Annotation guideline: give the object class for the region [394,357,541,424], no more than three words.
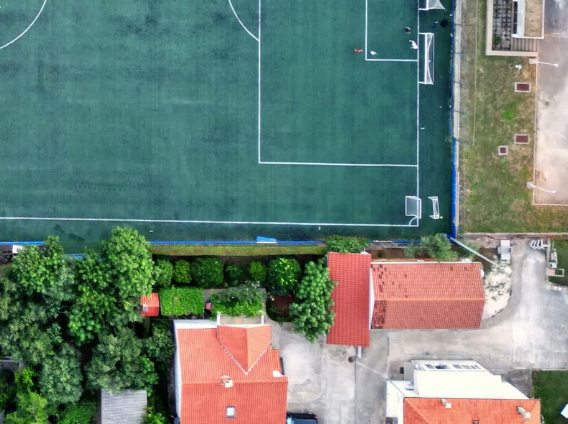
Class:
house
